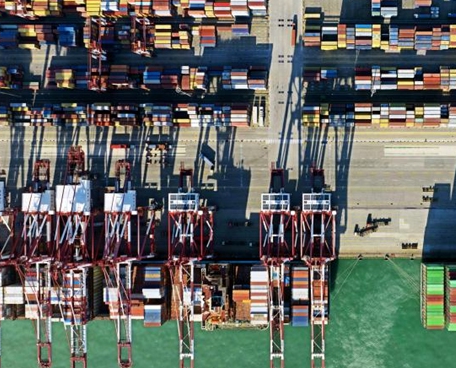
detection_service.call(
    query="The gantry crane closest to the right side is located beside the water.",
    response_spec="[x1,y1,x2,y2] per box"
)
[299,160,345,368]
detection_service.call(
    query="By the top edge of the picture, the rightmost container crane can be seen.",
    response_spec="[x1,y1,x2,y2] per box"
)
[131,16,159,60]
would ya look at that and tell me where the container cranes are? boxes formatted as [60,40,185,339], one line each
[83,91,113,132]
[164,160,228,368]
[9,163,96,367]
[97,163,169,367]
[0,180,52,263]
[258,160,304,368]
[299,160,345,368]
[87,16,117,60]
[131,16,159,60]
[48,147,126,368]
